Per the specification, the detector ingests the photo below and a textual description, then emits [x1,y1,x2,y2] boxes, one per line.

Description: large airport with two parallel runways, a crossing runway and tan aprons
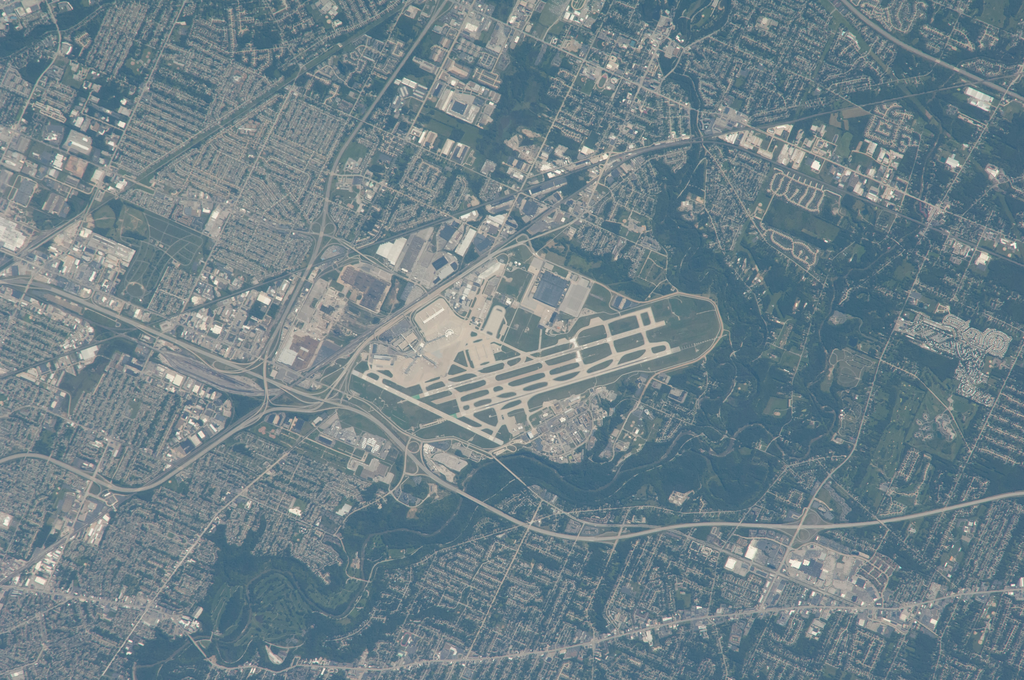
[347,255,720,446]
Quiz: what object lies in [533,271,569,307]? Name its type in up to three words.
building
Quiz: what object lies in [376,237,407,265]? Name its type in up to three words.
building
